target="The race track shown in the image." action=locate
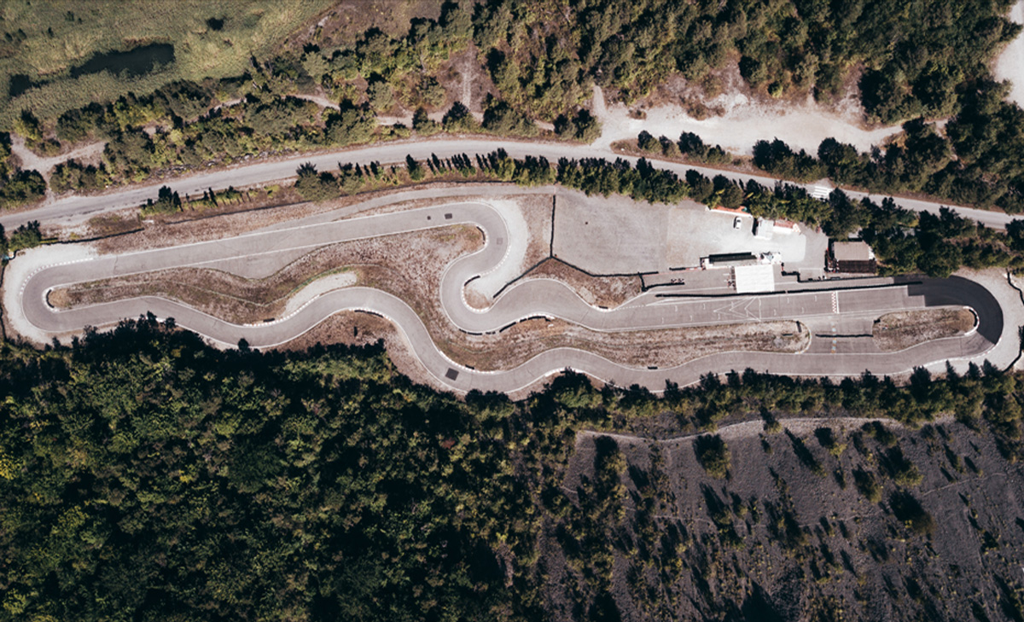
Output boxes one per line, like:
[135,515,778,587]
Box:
[21,202,1003,394]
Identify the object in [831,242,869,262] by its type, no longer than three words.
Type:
building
